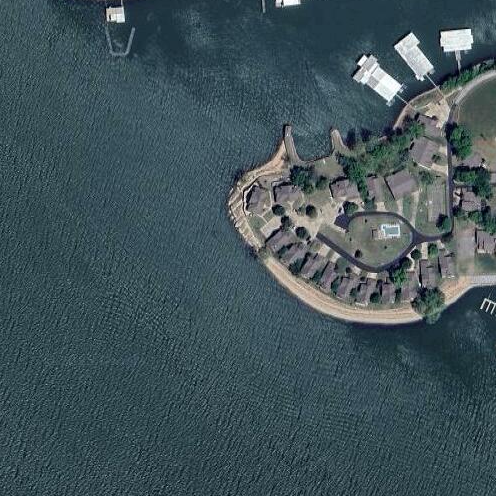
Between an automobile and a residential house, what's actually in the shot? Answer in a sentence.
It is a residential house that can be seen here.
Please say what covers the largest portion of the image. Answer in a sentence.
For the most part, this view shows water.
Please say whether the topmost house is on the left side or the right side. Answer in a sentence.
The topmost house sits on the right side.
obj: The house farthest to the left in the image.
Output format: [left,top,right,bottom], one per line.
[245,186,271,216]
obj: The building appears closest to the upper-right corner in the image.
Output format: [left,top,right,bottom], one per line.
[421,113,443,139]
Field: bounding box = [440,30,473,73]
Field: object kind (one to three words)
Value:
pier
